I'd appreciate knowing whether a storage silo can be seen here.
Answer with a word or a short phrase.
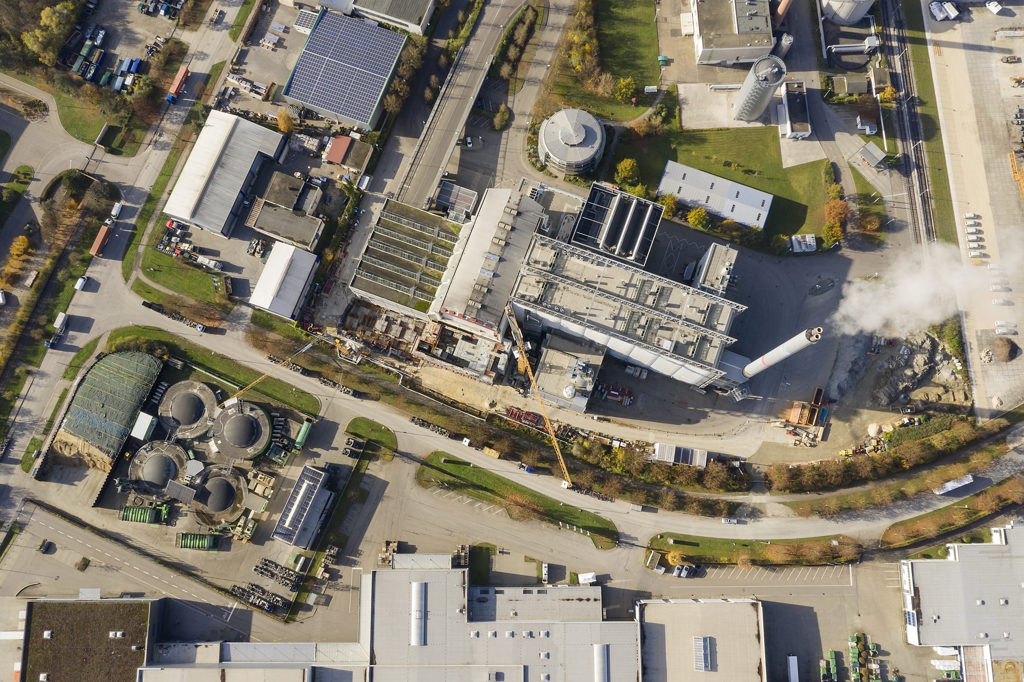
Yes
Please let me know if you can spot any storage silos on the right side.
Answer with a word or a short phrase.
Yes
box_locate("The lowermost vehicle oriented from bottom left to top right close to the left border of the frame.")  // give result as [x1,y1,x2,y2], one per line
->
[39,540,51,556]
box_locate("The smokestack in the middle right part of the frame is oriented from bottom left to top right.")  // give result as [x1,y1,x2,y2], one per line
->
[749,329,814,379]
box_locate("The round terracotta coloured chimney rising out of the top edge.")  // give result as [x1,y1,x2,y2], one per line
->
[773,0,794,37]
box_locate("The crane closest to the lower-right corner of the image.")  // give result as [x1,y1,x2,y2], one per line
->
[503,304,573,487]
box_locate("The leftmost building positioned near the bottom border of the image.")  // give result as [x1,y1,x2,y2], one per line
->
[5,589,166,682]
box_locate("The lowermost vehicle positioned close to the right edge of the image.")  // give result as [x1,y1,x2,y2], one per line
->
[933,475,978,498]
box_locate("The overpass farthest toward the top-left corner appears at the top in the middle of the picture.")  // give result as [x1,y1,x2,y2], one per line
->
[394,0,524,203]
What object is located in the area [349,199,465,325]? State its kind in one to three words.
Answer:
building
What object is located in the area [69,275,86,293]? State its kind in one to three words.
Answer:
vehicle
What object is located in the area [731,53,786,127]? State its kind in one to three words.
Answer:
silo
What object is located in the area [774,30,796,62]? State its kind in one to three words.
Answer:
silo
